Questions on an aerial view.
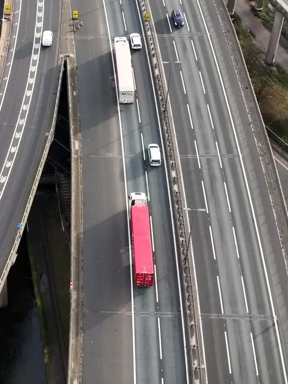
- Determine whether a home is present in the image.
No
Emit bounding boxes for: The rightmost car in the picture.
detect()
[172,8,185,26]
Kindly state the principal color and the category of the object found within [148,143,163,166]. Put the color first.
white car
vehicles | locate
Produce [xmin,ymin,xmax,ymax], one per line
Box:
[148,143,163,166]
[130,196,155,284]
[41,31,53,47]
[130,33,142,49]
[172,8,185,26]
[114,39,135,101]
